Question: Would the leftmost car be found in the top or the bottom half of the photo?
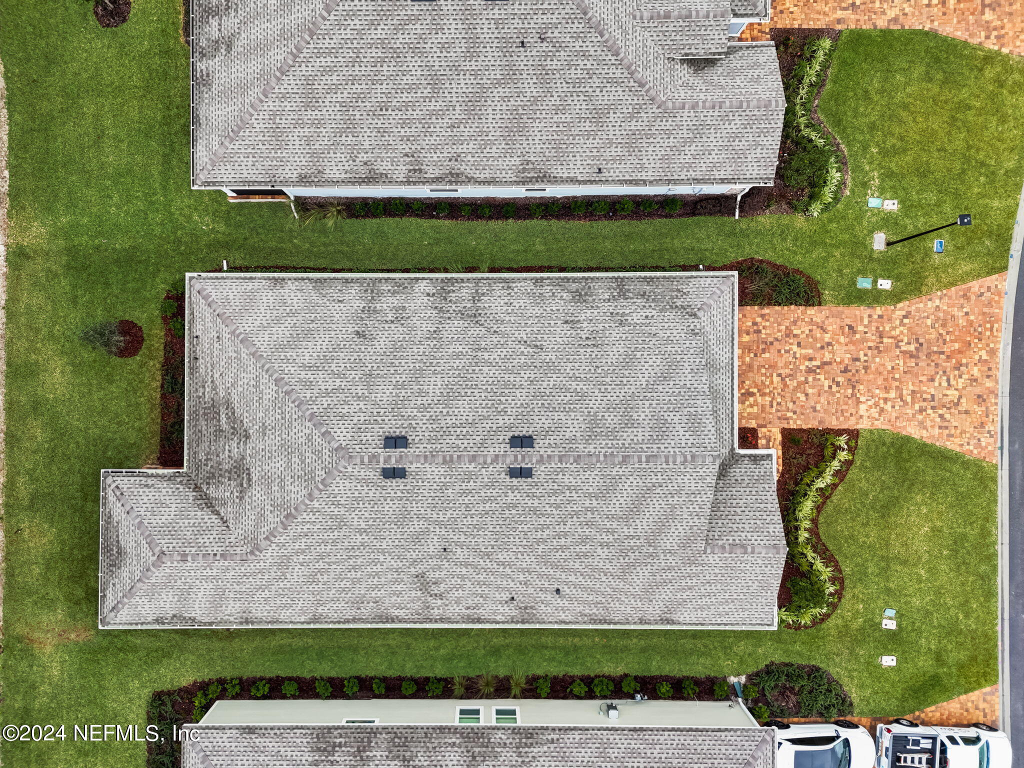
bottom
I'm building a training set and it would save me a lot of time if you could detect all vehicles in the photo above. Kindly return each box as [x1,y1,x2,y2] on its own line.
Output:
[763,721,874,768]
[873,718,1015,768]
